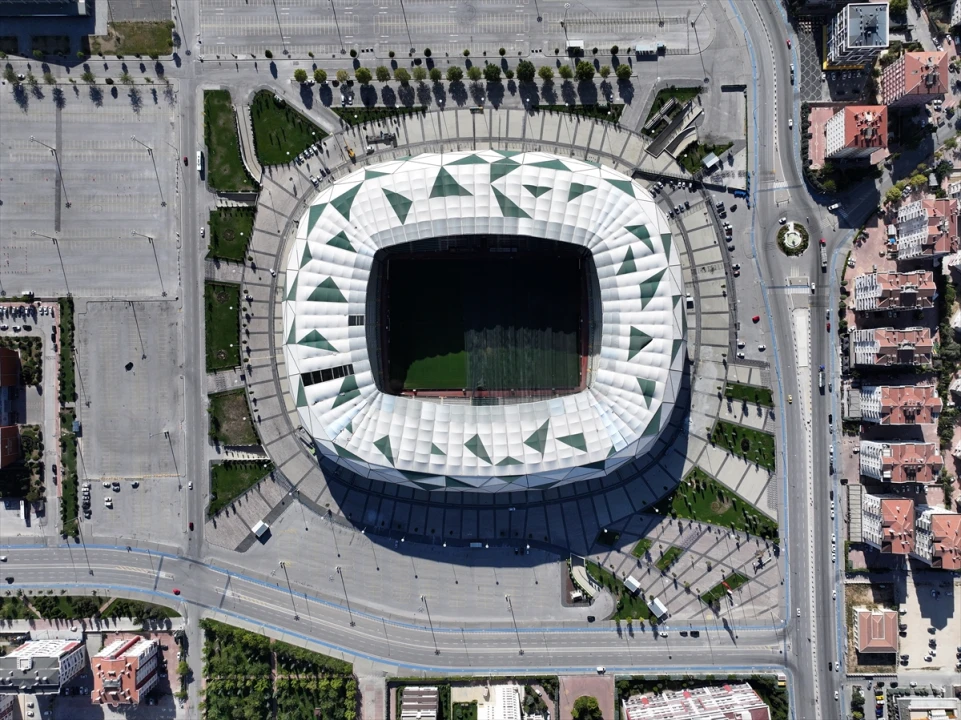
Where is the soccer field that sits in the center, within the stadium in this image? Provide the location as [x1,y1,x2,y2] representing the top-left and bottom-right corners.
[379,252,589,398]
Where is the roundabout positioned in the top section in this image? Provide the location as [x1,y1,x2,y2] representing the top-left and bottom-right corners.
[777,222,810,254]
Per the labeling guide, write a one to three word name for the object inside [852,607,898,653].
house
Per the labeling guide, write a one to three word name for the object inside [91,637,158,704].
building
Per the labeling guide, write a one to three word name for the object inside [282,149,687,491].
stadium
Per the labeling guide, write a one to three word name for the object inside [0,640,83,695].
building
